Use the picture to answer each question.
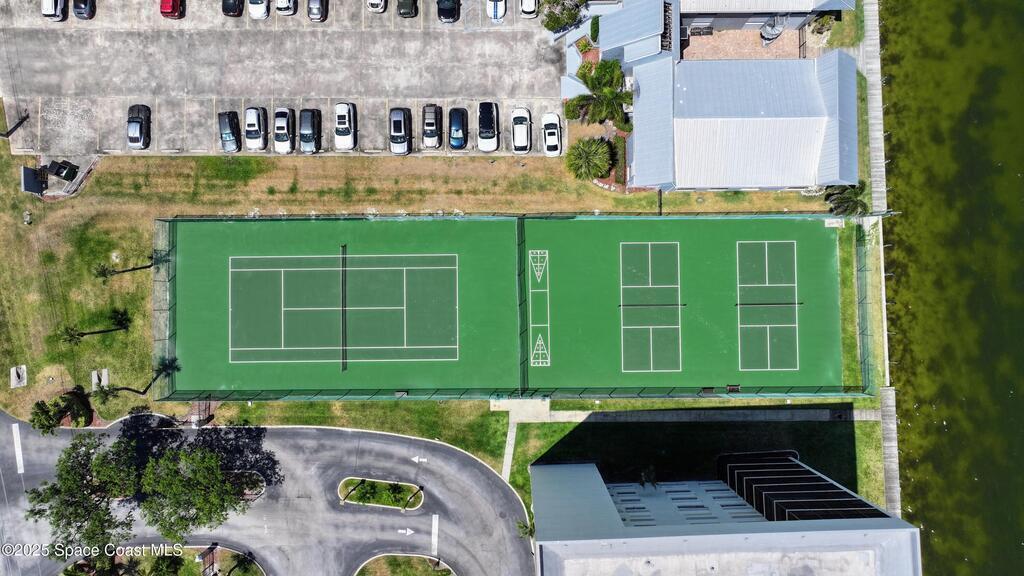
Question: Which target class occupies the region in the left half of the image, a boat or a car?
car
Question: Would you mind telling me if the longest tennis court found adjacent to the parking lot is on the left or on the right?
left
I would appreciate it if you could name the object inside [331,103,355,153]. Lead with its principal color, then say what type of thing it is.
white car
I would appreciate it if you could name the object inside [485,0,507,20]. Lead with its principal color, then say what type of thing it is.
white car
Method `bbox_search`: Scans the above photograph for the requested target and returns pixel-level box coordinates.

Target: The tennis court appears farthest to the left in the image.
[168,218,521,397]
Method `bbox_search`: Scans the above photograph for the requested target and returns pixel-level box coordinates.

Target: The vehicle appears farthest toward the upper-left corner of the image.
[39,0,68,21]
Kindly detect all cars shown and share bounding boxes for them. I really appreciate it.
[221,0,243,16]
[485,0,507,20]
[124,106,149,151]
[307,0,327,20]
[510,109,532,156]
[295,110,319,157]
[540,113,561,159]
[475,103,499,154]
[520,0,538,18]
[70,0,96,19]
[446,108,468,151]
[39,0,68,21]
[436,0,459,24]
[159,0,184,17]
[397,0,416,17]
[275,0,296,16]
[387,108,410,158]
[241,107,266,153]
[270,109,293,156]
[366,0,385,14]
[214,109,239,154]
[245,0,268,18]
[331,103,355,153]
